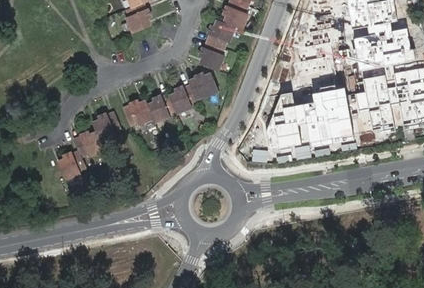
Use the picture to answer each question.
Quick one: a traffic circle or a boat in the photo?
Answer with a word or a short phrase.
traffic circle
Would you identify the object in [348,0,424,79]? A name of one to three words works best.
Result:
building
